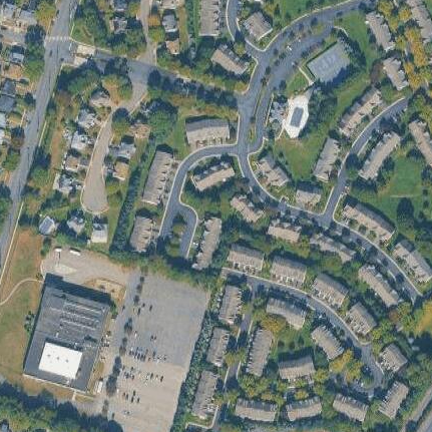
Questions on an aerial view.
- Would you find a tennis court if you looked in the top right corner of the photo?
Yes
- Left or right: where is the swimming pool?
right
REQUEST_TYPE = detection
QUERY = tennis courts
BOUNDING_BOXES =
[306,42,352,86]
